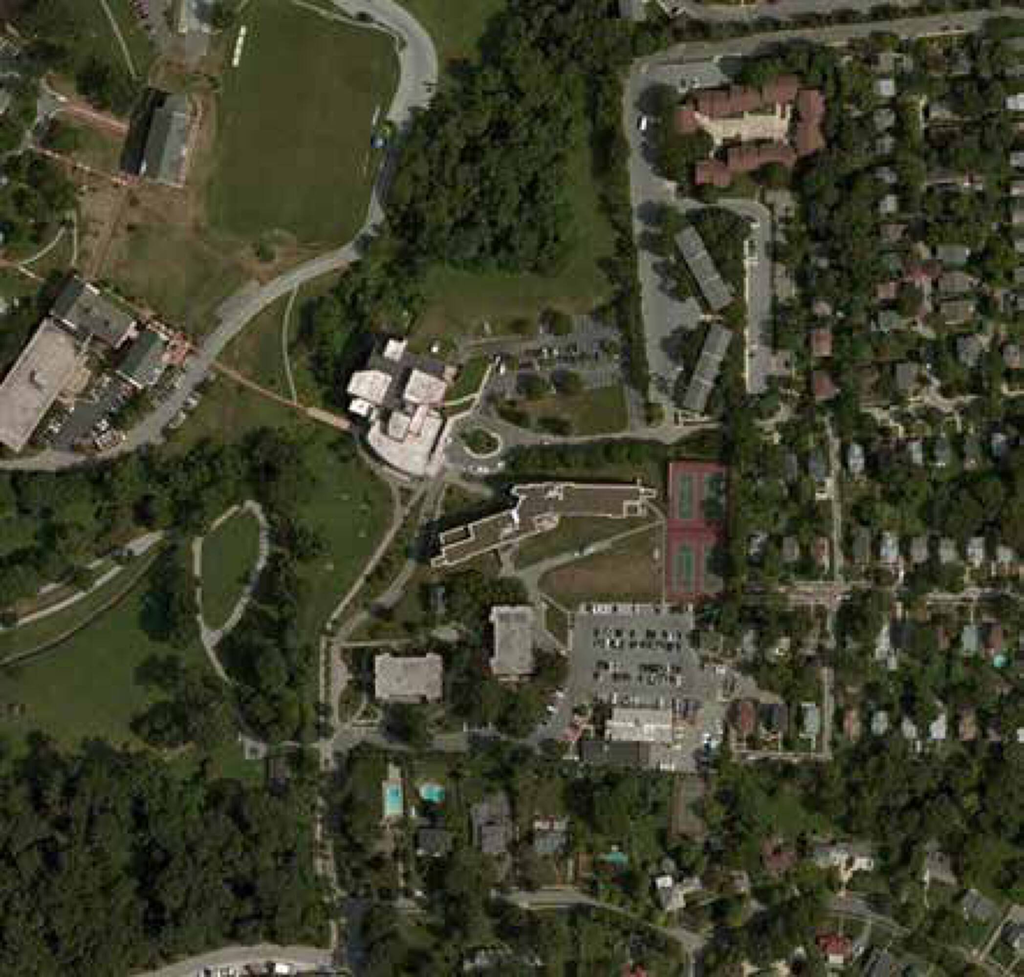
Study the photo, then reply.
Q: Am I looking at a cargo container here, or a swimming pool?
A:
swimming pool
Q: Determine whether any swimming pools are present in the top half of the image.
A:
No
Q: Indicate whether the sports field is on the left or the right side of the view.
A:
left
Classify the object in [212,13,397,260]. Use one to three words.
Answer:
sports field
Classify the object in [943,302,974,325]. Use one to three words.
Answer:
house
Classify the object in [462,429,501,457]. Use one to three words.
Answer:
roundabout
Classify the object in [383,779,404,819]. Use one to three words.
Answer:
swimming pool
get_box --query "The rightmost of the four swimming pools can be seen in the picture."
[991,652,1009,670]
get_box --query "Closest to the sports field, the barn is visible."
[140,94,187,188]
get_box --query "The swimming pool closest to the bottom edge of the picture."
[596,851,630,866]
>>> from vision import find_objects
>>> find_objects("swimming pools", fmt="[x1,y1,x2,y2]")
[991,652,1009,670]
[596,851,630,866]
[418,783,446,804]
[383,779,404,819]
